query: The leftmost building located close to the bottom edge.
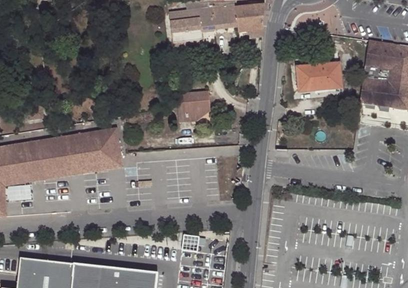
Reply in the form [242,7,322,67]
[16,258,72,288]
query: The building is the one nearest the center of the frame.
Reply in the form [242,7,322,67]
[178,90,211,122]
